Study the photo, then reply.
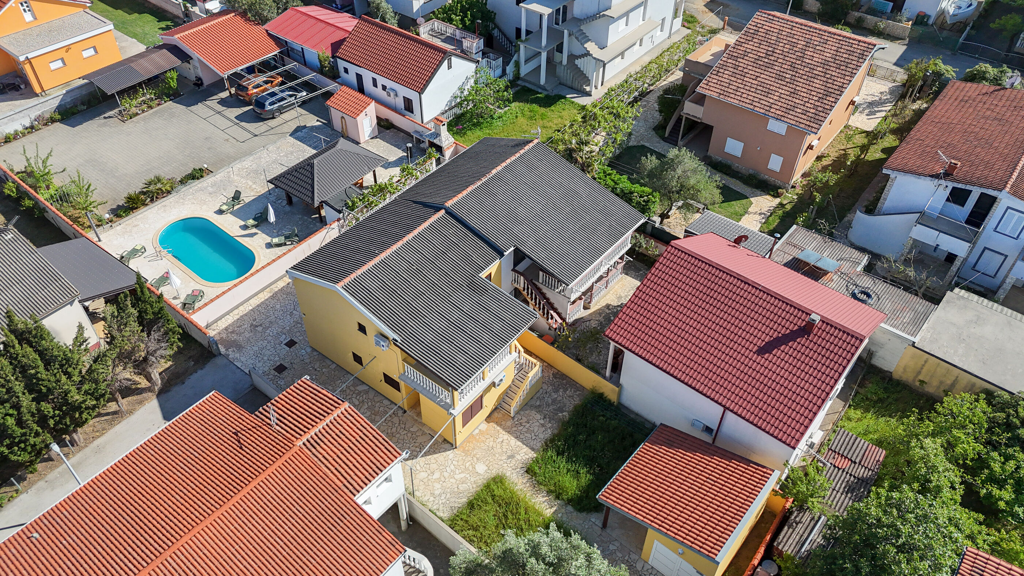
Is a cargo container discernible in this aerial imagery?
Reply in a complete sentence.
No, I find no cargo container anywhere in the image.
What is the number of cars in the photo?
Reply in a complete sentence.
Altogether the scene contains 2 cars.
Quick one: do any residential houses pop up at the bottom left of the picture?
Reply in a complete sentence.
Yes, I can see a residential house at the bottom left of the picture.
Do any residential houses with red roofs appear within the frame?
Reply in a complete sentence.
Yes, I can see a residential house with a red roof in this picture.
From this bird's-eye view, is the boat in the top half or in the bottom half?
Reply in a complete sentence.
It is in the top half that the boat appears.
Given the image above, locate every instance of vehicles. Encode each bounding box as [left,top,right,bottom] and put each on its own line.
[235,71,292,104]
[250,83,313,119]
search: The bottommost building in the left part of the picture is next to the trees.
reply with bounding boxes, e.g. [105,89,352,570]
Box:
[0,373,446,576]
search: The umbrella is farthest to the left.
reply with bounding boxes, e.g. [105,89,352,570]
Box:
[165,265,182,298]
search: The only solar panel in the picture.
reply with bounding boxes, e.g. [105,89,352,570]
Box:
[783,243,842,282]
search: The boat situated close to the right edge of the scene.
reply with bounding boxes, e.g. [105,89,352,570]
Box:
[937,0,987,34]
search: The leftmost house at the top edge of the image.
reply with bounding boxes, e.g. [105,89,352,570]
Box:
[0,0,123,93]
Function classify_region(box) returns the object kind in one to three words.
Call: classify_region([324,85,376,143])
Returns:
shed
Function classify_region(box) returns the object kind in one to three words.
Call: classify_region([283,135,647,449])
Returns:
house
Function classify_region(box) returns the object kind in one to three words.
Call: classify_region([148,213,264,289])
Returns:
swimming pool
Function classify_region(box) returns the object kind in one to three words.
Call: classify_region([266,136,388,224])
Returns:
gazebo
